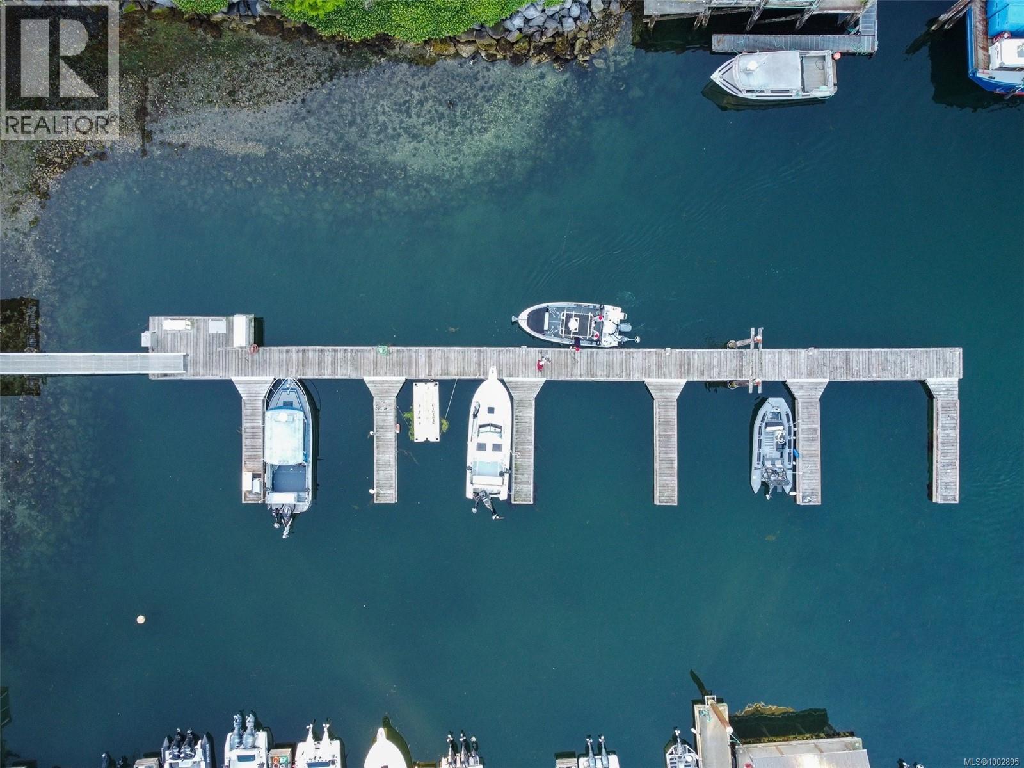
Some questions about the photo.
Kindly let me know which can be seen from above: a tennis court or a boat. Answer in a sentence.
It is a boat that can be seen here.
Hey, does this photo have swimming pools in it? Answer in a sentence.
No, I can't see a single swimming pool in this photo.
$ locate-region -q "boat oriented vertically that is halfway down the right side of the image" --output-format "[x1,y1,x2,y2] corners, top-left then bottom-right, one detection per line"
[752,397,793,497]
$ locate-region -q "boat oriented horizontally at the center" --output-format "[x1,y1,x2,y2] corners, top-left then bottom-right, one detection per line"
[511,302,637,347]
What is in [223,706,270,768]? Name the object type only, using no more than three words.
boat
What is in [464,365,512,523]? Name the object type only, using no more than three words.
boat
